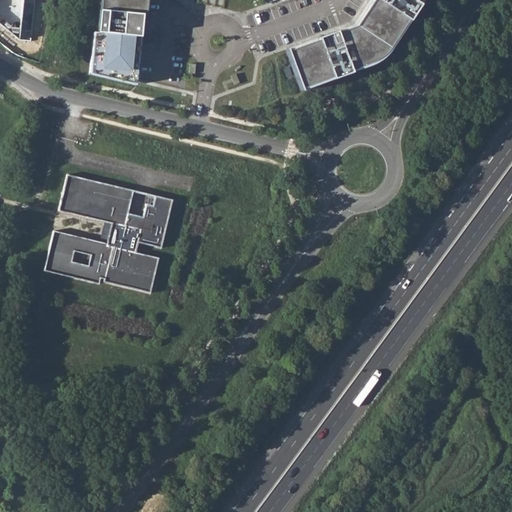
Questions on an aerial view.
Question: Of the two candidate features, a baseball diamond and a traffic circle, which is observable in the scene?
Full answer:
This aerial view contains a traffic circle.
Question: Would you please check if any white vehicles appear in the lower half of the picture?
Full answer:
Yes, a white vehicle is visible in the lower half of the picture.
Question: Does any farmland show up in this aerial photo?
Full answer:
No, no farmland is visible.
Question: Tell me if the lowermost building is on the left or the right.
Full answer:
The lowermost building sits on the left side.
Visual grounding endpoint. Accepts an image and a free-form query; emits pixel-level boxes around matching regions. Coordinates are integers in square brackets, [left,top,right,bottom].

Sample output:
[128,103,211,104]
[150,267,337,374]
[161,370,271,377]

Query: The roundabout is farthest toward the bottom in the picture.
[322,112,410,234]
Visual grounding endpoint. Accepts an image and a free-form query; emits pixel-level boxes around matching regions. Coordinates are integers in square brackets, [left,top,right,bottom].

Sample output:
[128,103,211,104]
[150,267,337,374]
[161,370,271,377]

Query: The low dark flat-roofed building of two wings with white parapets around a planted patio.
[44,174,173,294]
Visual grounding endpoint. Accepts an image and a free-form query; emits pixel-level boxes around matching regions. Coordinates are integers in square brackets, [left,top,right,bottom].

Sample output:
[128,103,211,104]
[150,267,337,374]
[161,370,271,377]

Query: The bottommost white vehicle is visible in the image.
[352,369,381,406]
